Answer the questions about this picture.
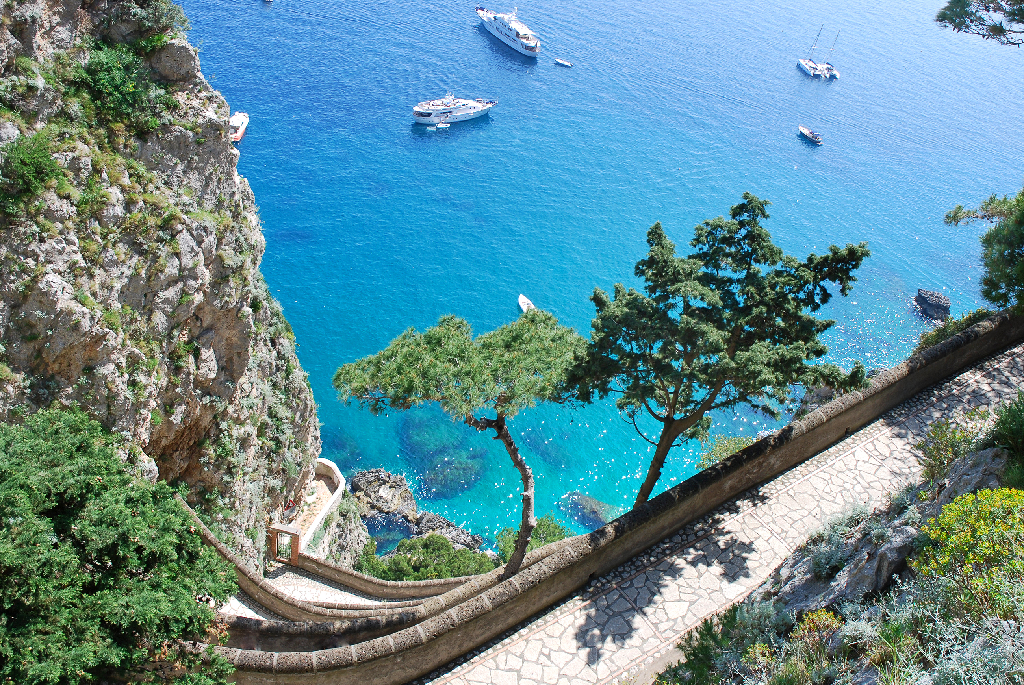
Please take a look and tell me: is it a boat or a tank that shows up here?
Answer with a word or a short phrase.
boat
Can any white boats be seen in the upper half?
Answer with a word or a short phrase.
Yes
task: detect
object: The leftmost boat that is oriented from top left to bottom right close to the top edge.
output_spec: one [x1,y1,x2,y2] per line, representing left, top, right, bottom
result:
[479,3,543,57]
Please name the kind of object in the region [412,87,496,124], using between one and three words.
boat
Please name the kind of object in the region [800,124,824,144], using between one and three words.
boat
